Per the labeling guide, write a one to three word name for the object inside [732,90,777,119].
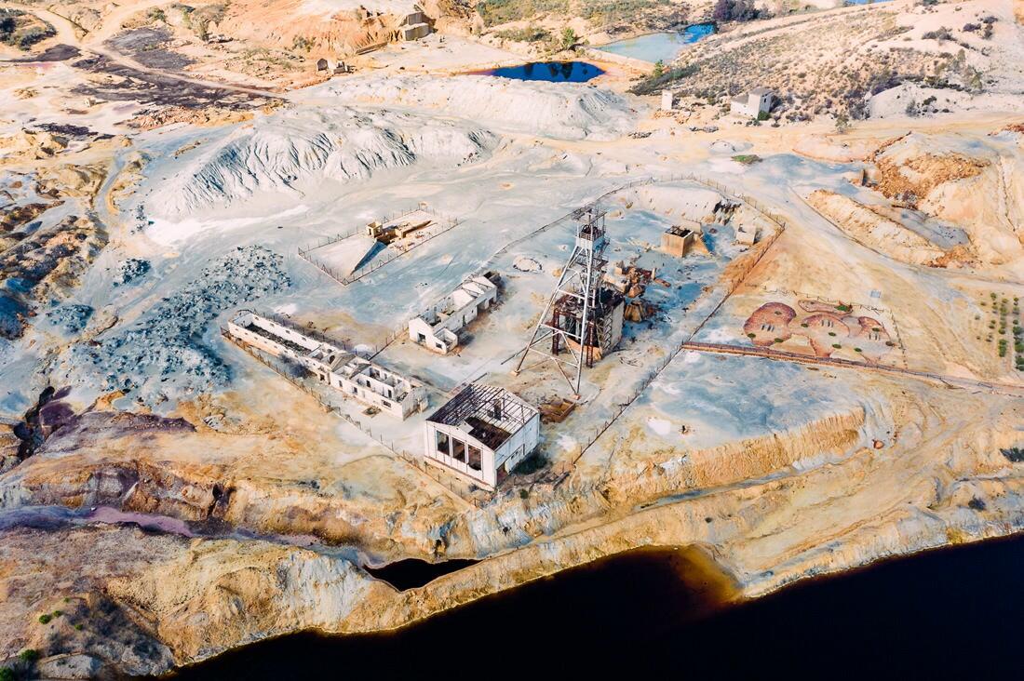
house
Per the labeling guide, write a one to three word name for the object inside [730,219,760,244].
house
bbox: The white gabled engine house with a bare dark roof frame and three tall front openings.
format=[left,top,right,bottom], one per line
[422,380,539,491]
